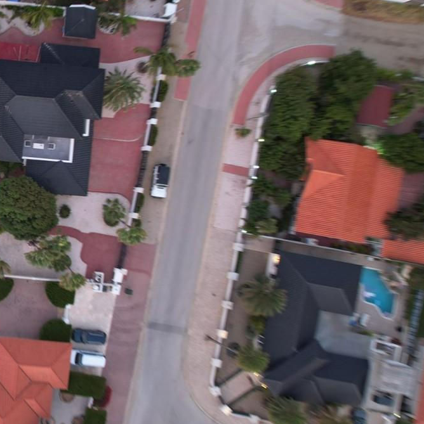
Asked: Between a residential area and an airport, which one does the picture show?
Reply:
residential area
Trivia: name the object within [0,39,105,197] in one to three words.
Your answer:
house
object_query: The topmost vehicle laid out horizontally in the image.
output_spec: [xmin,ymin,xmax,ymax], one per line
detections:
[73,329,108,348]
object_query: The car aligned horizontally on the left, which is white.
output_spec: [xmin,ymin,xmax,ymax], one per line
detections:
[71,351,108,369]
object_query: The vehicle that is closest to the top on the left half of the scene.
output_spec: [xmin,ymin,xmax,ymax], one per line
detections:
[151,163,170,198]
